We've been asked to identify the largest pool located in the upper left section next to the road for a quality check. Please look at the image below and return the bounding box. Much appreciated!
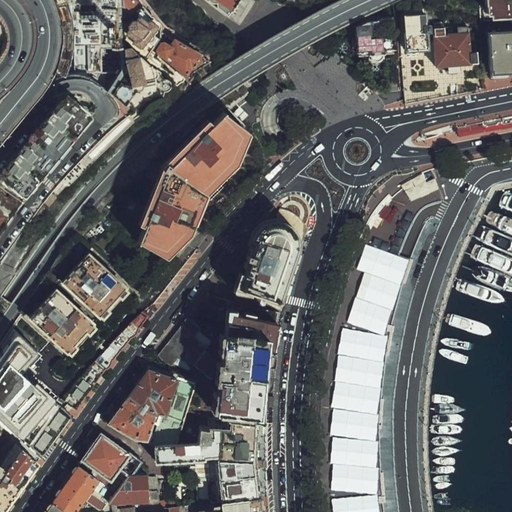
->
[117,86,132,102]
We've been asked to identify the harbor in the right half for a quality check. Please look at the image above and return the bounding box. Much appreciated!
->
[418,179,512,512]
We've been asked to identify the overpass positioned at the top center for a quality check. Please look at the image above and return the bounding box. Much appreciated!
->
[214,0,400,92]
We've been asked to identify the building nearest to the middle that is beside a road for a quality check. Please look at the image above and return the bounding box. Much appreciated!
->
[236,218,304,309]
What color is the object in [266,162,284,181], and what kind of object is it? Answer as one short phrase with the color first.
white vehicle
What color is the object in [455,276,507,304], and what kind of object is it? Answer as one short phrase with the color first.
white boat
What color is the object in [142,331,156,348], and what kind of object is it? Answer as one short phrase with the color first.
white vehicle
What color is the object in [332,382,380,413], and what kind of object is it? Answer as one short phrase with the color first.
white tent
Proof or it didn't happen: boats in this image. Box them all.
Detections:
[438,350,470,365]
[432,474,451,482]
[432,492,447,500]
[428,424,463,435]
[436,498,451,506]
[431,394,456,404]
[481,209,512,234]
[444,312,494,336]
[430,435,462,446]
[432,482,452,490]
[455,276,507,304]
[475,226,512,254]
[466,242,512,274]
[431,446,462,456]
[494,192,512,210]
[430,414,464,424]
[432,465,456,475]
[440,339,474,350]
[468,270,512,295]
[432,456,457,466]
[434,404,465,414]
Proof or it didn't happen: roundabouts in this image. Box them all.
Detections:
[324,118,390,185]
